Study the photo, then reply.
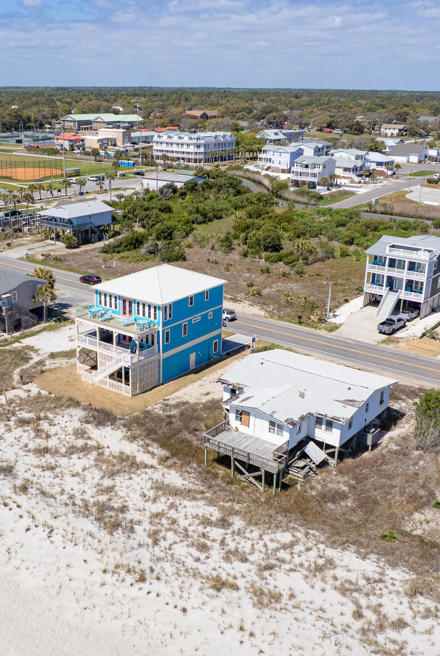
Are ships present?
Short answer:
No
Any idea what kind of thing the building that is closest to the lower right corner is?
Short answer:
home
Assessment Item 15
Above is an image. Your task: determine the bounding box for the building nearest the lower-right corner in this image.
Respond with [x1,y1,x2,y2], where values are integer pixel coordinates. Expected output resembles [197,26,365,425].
[203,353,394,494]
